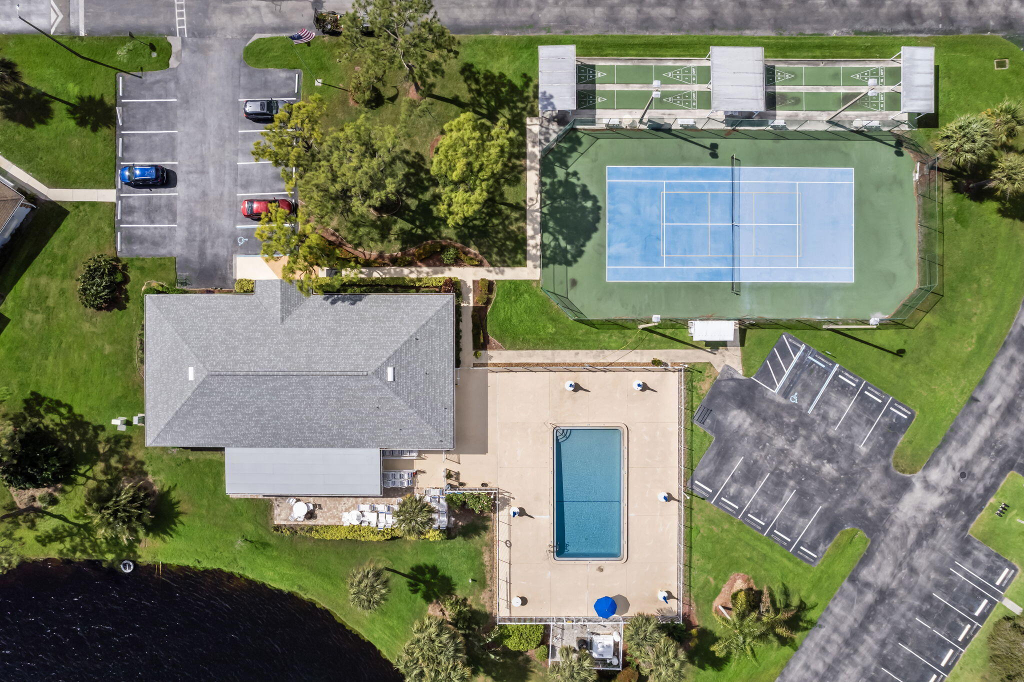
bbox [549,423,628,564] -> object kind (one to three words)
swimming pool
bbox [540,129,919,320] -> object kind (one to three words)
tennis court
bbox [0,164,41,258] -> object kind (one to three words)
house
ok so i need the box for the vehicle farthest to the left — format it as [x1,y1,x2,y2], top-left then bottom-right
[121,162,168,186]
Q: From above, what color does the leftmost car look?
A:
blue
